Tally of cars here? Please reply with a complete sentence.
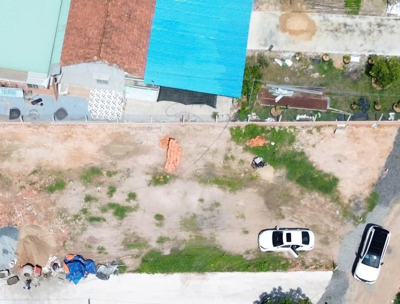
In total, there are 2 cars in the scene.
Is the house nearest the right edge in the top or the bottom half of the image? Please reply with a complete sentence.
The top half of the photo is where the house nearest the right edge is.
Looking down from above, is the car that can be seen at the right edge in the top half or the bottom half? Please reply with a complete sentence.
Seen from above, the car that can be seen at the right edge lies in the bottom half of the view.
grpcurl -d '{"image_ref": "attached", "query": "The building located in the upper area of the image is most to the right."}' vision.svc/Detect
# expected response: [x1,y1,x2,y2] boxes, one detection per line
[142,0,252,105]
